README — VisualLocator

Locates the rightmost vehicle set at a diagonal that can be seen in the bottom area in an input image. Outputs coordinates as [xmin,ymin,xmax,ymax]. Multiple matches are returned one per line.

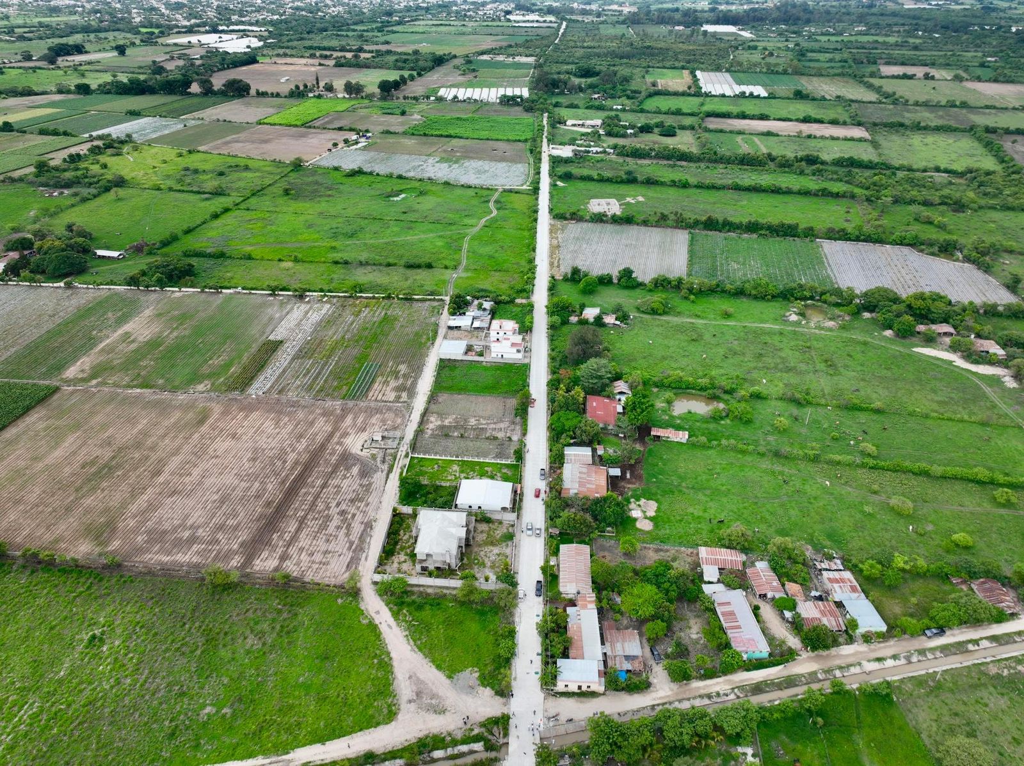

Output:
[647,643,664,664]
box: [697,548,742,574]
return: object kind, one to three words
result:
shed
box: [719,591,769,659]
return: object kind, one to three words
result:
house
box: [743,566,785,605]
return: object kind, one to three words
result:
barn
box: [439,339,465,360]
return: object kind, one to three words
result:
shed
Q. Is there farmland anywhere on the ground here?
Yes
